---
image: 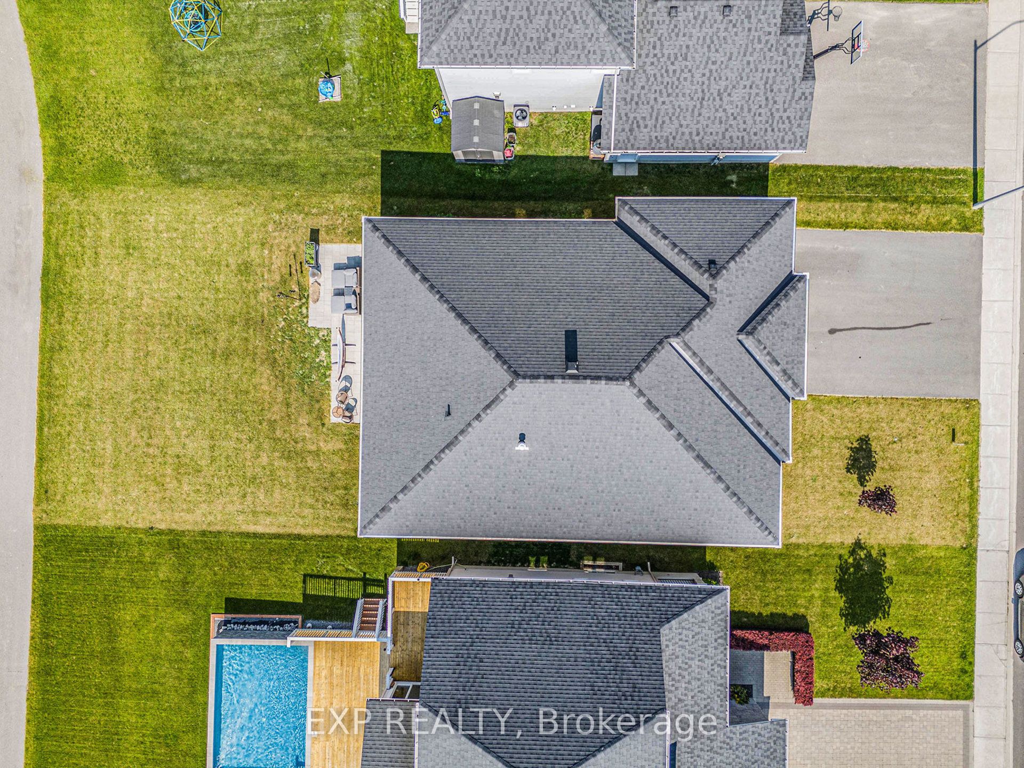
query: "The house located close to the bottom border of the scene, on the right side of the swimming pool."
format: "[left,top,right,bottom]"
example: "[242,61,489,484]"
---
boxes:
[361,552,788,768]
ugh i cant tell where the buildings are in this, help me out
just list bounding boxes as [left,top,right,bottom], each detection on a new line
[358,196,808,546]
[361,552,788,768]
[418,0,817,167]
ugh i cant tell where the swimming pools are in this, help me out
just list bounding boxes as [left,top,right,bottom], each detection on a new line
[208,628,314,768]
